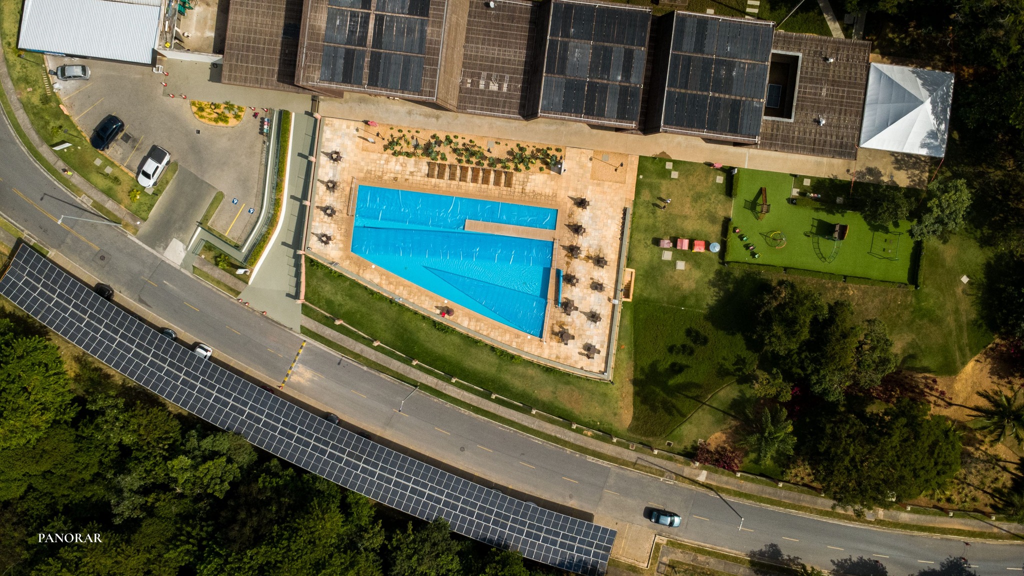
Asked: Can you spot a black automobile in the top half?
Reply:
Yes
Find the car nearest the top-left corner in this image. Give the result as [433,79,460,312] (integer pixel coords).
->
[52,62,89,80]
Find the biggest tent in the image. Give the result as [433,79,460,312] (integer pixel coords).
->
[850,62,956,200]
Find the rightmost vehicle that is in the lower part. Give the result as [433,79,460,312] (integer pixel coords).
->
[648,508,684,531]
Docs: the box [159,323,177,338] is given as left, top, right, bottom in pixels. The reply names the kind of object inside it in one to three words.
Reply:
car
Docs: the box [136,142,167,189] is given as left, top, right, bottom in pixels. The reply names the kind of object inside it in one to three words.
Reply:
truck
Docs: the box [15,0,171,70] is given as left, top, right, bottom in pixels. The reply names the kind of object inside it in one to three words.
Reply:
shed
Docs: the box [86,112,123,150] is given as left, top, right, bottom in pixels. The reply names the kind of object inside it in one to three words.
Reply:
car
